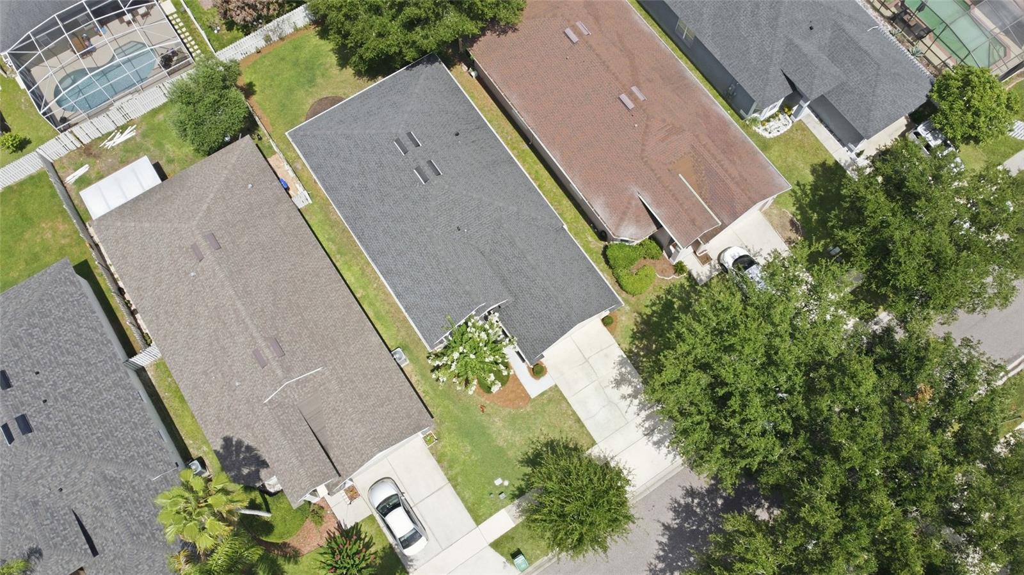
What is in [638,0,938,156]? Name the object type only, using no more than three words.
house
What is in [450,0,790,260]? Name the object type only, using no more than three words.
house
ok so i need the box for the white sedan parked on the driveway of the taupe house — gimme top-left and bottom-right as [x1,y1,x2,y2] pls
[366,475,431,564]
